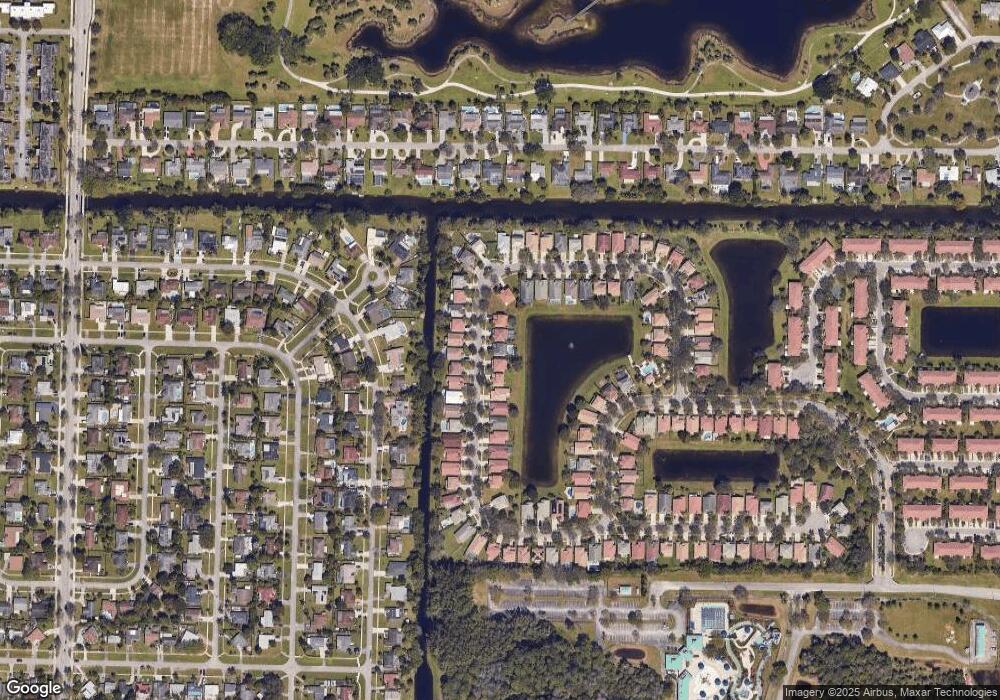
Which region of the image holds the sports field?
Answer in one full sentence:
The sports field sits in the top left section of the image.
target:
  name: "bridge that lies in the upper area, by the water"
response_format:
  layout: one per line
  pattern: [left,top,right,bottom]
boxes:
[65,187,86,216]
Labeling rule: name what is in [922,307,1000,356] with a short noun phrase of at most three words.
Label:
pond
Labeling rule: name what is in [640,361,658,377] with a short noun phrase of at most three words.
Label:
swimming pool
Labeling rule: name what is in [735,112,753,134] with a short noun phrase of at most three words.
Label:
house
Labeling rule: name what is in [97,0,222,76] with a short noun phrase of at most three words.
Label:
sports field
